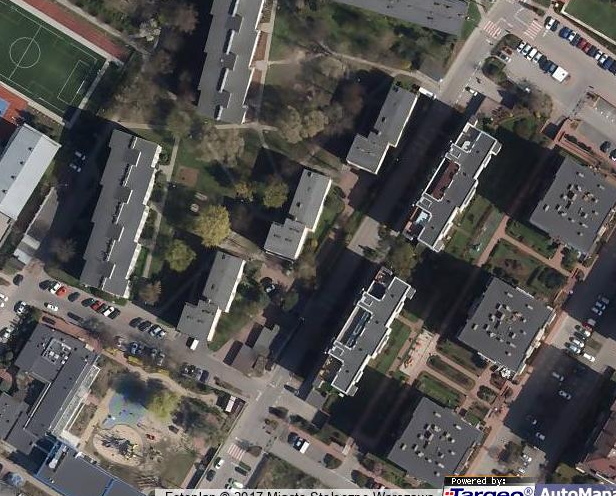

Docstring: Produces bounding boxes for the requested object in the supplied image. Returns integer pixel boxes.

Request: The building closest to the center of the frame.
[265,169,333,261]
